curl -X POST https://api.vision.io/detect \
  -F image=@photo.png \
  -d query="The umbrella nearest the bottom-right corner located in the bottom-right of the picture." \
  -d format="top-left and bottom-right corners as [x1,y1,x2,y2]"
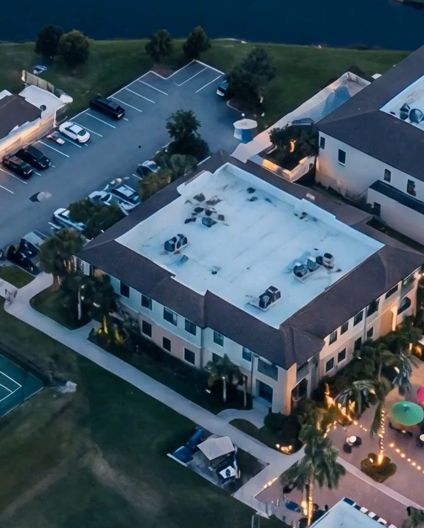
[391,403,424,430]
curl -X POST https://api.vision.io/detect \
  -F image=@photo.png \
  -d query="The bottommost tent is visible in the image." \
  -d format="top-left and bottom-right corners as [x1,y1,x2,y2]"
[197,431,243,462]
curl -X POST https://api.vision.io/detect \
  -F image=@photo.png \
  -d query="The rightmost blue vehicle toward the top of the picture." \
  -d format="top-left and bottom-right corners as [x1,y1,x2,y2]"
[215,79,230,95]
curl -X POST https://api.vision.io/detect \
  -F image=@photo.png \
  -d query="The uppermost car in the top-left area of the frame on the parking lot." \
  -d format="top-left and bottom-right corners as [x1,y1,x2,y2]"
[94,96,121,117]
